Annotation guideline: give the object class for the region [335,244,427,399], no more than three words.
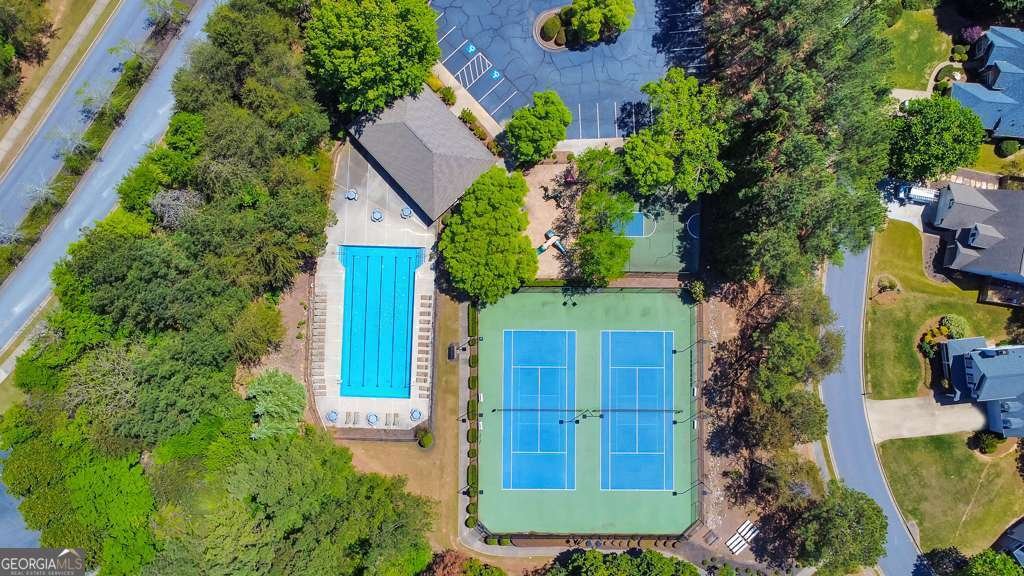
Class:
swimming pool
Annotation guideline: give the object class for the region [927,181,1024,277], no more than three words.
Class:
house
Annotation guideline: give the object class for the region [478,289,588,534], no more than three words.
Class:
tennis court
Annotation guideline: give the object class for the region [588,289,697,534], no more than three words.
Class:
tennis court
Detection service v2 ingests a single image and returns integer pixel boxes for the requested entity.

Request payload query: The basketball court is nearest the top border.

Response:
[612,190,701,272]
